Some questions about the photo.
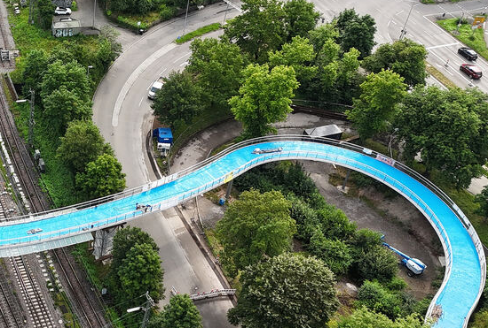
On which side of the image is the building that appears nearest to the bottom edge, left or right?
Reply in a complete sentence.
The building that appears nearest to the bottom edge sits on the left side.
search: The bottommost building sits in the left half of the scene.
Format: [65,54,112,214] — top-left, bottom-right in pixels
[53,16,87,37]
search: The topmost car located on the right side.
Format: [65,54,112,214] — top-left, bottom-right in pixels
[455,44,481,60]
